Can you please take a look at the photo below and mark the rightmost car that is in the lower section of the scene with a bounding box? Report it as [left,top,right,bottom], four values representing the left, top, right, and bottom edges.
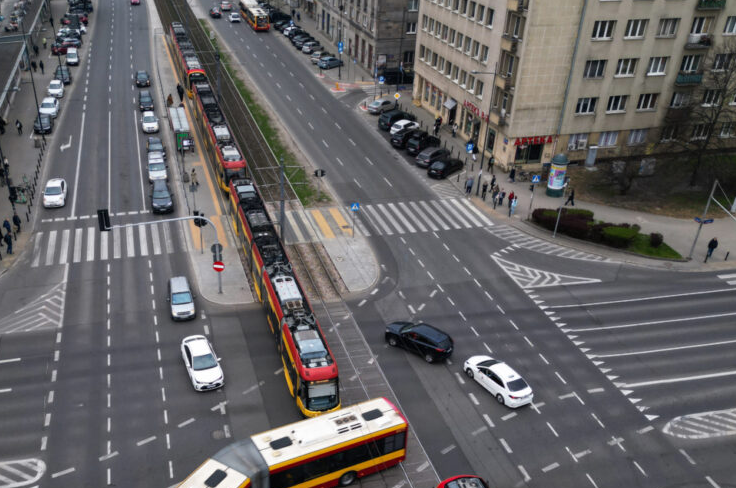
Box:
[459,359,535,406]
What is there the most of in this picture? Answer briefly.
paved ground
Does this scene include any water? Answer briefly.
No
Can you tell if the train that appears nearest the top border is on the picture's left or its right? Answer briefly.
left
